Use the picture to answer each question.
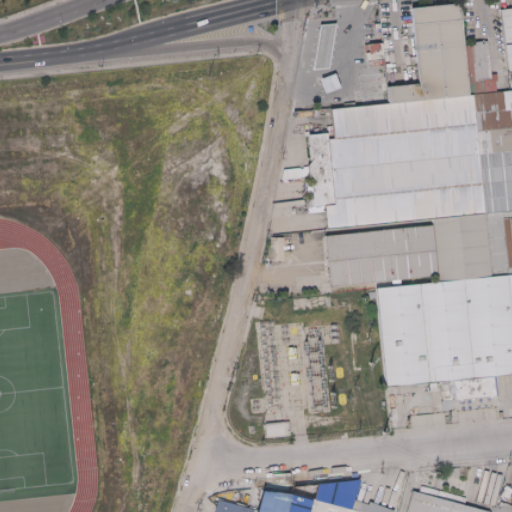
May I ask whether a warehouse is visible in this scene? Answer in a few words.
Yes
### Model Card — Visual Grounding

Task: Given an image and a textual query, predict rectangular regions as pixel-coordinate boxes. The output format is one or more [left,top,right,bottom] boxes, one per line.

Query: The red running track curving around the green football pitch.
[0,216,98,512]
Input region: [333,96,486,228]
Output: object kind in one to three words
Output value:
warehouse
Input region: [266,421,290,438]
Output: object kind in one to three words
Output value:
building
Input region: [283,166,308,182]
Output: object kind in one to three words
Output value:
shed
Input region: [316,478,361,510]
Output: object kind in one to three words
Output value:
building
